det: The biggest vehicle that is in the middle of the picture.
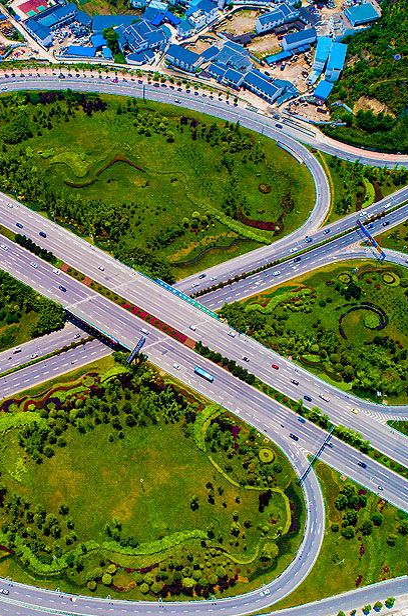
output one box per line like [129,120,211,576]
[194,365,216,381]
